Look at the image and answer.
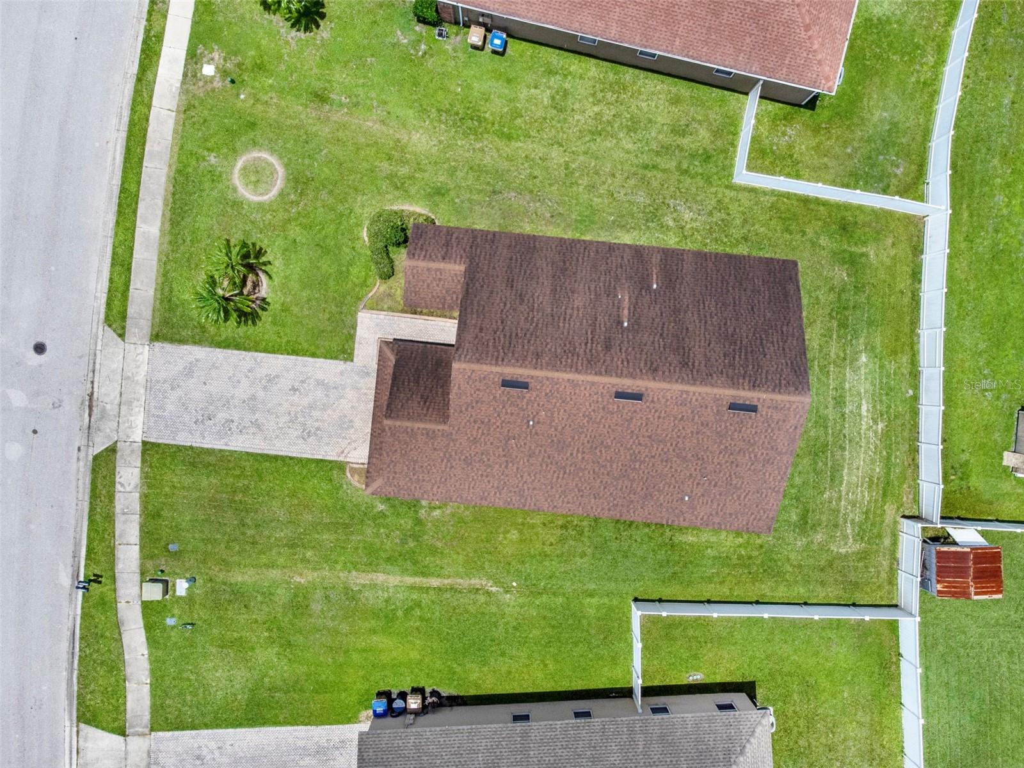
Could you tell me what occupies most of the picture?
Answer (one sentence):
The bulk of the photo consists of grass.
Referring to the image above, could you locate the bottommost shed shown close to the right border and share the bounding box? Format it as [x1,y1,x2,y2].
[920,540,1004,600]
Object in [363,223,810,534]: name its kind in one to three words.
house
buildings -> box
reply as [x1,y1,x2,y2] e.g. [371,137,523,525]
[920,540,1004,600]
[363,223,810,534]
[356,693,772,768]
[431,0,854,109]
